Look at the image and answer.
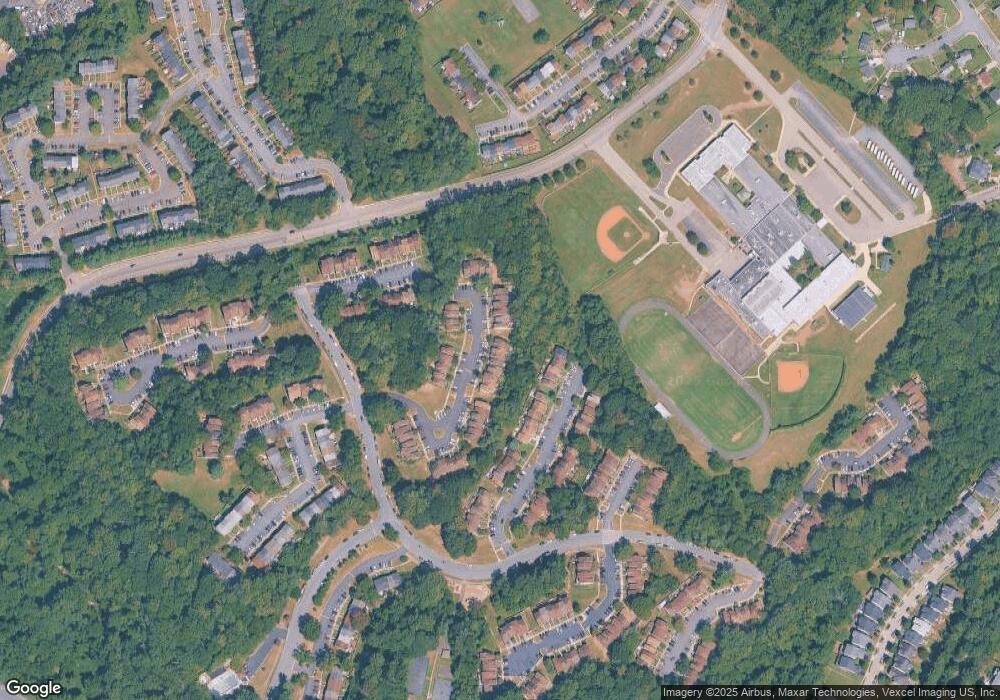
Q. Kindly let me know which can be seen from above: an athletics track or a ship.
athletics track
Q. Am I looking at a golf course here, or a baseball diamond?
baseball diamond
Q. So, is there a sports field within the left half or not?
No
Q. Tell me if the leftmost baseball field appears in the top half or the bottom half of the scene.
top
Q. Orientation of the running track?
at an angle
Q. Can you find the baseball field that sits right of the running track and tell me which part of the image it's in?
right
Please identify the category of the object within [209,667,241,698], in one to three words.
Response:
house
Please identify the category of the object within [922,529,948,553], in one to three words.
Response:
house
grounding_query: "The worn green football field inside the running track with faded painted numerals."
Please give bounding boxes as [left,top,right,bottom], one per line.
[625,305,764,452]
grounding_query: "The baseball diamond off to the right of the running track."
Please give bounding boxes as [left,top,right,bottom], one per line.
[771,352,845,428]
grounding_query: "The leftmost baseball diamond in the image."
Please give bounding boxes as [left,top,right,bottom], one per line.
[598,206,661,263]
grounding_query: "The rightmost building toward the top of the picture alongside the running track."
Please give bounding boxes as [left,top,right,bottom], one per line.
[682,123,859,341]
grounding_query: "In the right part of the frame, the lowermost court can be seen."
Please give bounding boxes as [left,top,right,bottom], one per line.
[717,327,768,376]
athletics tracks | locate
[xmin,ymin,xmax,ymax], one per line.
[618,297,771,460]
